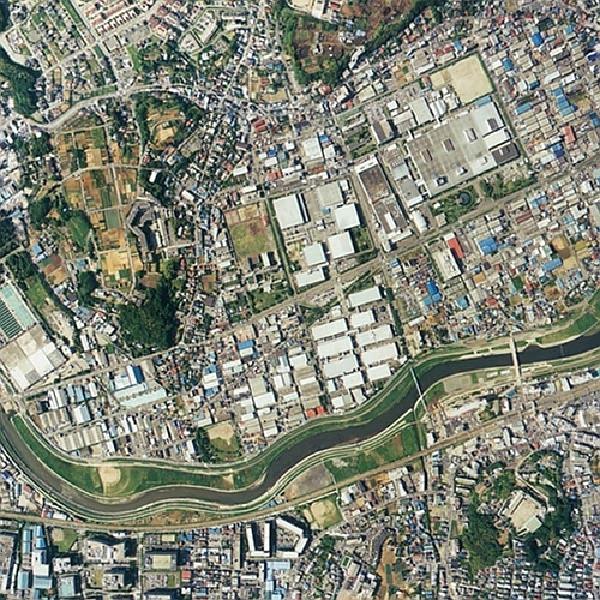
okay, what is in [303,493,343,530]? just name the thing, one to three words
sports field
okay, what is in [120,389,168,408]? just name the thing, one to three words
building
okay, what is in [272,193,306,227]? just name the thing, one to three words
building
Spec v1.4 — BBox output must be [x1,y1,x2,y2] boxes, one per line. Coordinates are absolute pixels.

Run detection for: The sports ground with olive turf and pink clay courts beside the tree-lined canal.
[224,203,278,272]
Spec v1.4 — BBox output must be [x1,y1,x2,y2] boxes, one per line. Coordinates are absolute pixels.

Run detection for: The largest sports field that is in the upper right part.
[448,53,492,107]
